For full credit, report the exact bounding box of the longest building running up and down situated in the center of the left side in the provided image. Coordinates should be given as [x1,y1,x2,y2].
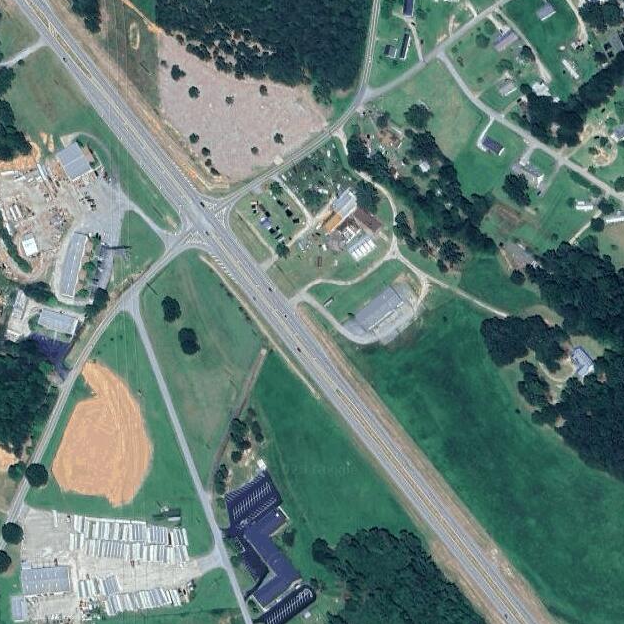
[60,233,89,297]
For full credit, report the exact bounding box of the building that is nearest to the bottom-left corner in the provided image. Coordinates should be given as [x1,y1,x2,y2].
[12,596,27,622]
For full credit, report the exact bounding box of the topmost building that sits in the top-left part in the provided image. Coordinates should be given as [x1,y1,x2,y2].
[59,143,92,181]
